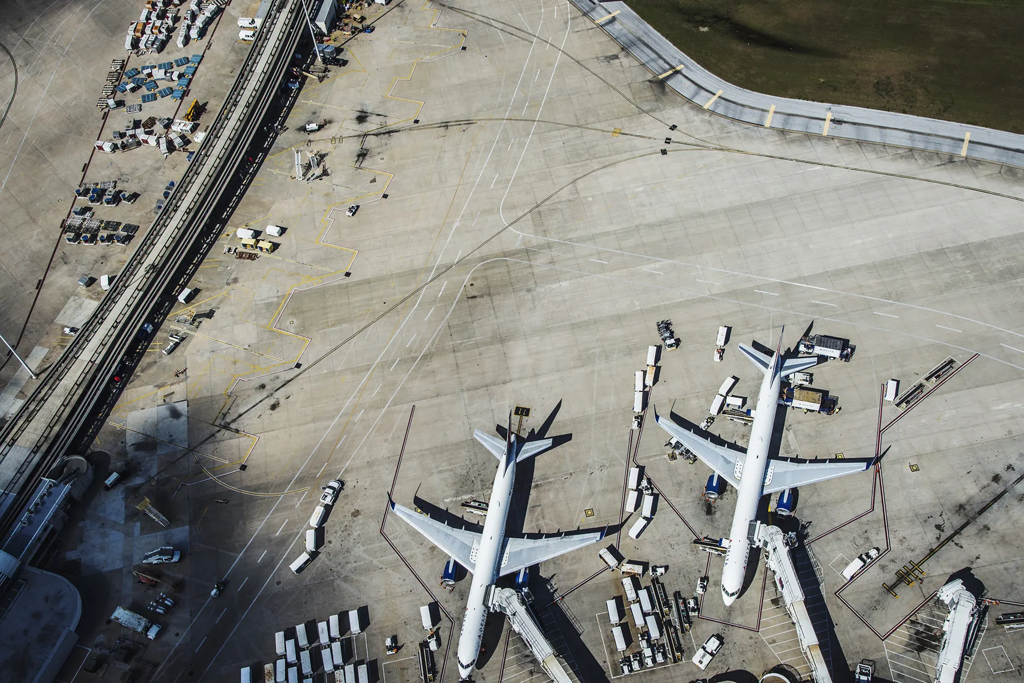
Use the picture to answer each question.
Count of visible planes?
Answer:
2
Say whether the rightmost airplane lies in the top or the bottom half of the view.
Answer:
bottom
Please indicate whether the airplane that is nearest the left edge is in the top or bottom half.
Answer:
bottom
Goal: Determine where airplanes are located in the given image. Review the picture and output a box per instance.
[387,412,609,680]
[652,326,878,604]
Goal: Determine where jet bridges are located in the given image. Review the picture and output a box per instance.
[932,575,980,683]
[747,518,833,683]
[482,582,575,683]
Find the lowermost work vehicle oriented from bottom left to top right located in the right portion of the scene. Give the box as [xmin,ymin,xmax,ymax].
[690,633,724,670]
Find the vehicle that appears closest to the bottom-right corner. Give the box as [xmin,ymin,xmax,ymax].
[989,612,1024,632]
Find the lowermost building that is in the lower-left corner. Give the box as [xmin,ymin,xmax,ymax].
[0,560,94,683]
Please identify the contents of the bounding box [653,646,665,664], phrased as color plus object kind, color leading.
white vehicle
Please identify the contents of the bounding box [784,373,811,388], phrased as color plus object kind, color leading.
white vehicle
